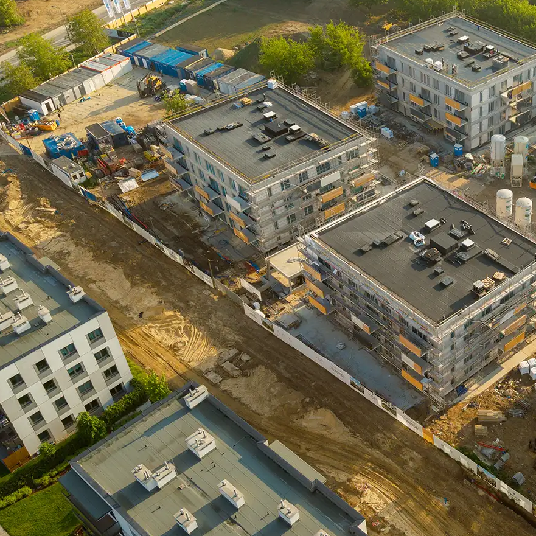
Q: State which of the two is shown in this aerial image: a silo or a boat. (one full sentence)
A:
The image shows a silo.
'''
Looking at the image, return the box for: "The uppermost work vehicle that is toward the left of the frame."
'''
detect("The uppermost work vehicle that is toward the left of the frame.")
[132,76,162,97]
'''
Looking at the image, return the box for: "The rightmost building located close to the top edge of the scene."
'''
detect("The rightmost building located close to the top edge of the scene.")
[375,15,536,152]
